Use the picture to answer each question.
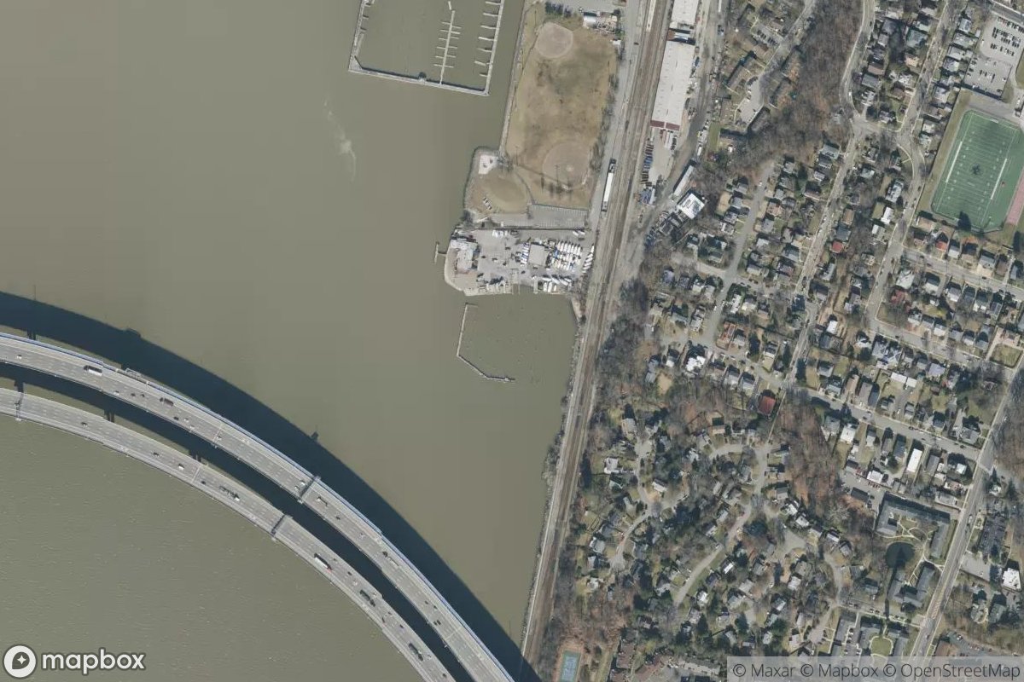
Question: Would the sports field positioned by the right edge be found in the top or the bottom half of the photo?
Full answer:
You can find the sports field positioned by the right edge in the top half.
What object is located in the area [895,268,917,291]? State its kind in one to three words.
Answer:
house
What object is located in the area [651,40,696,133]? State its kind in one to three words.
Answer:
building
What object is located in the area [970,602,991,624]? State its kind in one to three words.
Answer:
house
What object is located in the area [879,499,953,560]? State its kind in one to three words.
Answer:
building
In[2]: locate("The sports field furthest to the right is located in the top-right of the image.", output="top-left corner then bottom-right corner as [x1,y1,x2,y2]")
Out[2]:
[932,110,1024,231]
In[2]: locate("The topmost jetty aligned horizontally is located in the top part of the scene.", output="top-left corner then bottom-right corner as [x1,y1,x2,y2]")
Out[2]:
[348,67,490,96]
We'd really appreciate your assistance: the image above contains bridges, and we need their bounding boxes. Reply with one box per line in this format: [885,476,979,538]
[0,333,509,682]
